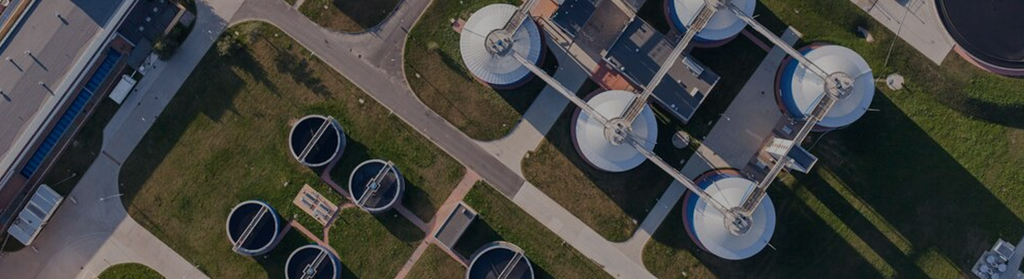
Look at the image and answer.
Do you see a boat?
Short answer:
No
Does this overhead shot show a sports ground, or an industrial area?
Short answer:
industrial area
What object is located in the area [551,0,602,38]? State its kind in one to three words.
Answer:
building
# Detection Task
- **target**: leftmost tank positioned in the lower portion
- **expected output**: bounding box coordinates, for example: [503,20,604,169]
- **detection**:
[226,198,283,254]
